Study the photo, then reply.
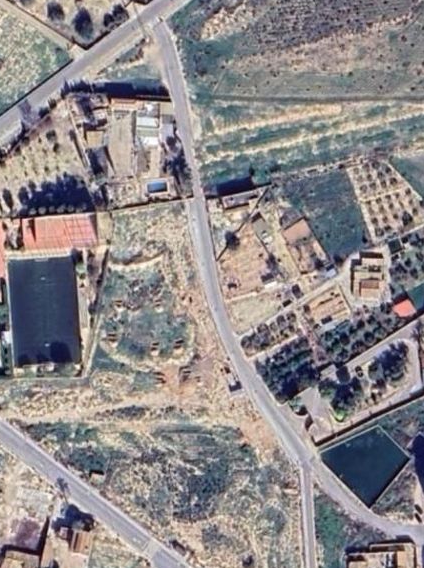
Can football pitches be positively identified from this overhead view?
Yes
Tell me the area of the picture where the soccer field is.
left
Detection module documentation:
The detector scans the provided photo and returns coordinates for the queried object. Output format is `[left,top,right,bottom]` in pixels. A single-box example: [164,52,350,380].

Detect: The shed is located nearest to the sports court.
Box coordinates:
[88,146,115,175]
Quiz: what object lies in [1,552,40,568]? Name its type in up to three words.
house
